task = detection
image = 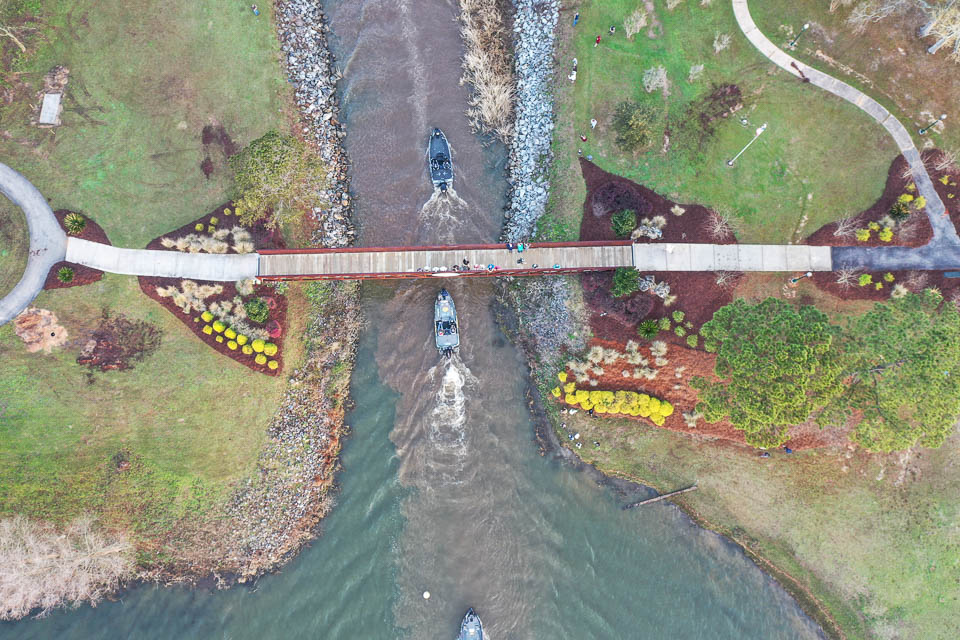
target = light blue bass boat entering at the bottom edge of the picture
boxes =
[460,607,487,640]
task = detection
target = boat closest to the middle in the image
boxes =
[434,290,460,358]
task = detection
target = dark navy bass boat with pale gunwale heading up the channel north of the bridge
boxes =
[429,127,452,190]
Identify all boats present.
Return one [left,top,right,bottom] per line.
[434,290,460,358]
[429,127,452,190]
[460,607,487,640]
